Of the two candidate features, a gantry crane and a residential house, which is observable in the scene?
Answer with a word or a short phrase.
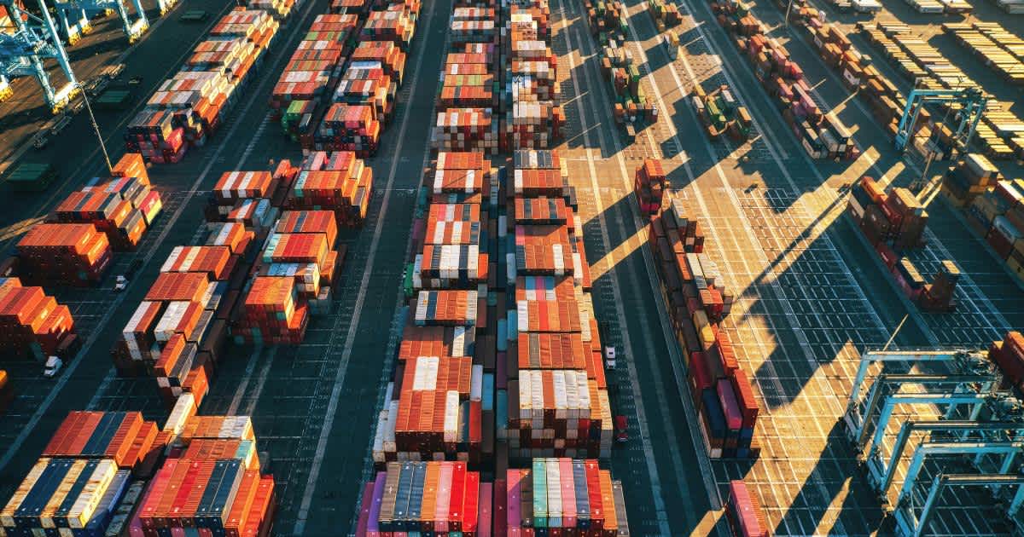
gantry crane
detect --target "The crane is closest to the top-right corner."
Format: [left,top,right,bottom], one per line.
[896,84,997,155]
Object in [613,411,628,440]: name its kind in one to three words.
vehicle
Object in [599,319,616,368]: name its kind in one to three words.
vehicle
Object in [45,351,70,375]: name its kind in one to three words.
truck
